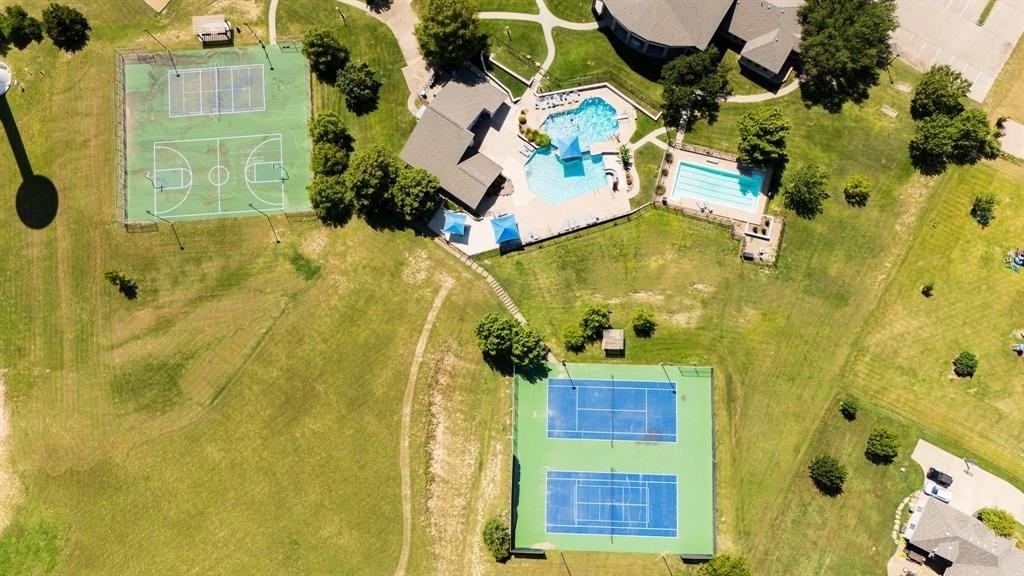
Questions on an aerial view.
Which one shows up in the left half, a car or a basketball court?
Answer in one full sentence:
The one visible in the left half is a basketball court.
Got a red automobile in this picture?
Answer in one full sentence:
No, there isn't any red automobile down there.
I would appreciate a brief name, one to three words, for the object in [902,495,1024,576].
house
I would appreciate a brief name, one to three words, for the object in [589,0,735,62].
building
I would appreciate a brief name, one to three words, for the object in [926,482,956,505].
car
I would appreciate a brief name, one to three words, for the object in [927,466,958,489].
car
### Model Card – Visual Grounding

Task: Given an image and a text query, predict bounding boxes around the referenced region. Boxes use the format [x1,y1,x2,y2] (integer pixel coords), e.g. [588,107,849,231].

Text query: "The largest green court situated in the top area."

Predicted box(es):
[154,134,284,217]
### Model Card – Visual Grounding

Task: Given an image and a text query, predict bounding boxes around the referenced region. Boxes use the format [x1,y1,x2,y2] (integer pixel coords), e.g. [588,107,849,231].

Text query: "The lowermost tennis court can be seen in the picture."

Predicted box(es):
[545,470,679,538]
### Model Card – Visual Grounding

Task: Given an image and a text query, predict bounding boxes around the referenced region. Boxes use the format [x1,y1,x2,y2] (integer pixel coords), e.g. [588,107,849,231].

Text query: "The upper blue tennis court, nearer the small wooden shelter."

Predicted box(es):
[548,378,678,443]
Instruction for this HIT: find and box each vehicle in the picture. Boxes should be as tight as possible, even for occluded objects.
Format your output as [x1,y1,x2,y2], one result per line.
[927,466,958,489]
[926,482,956,505]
